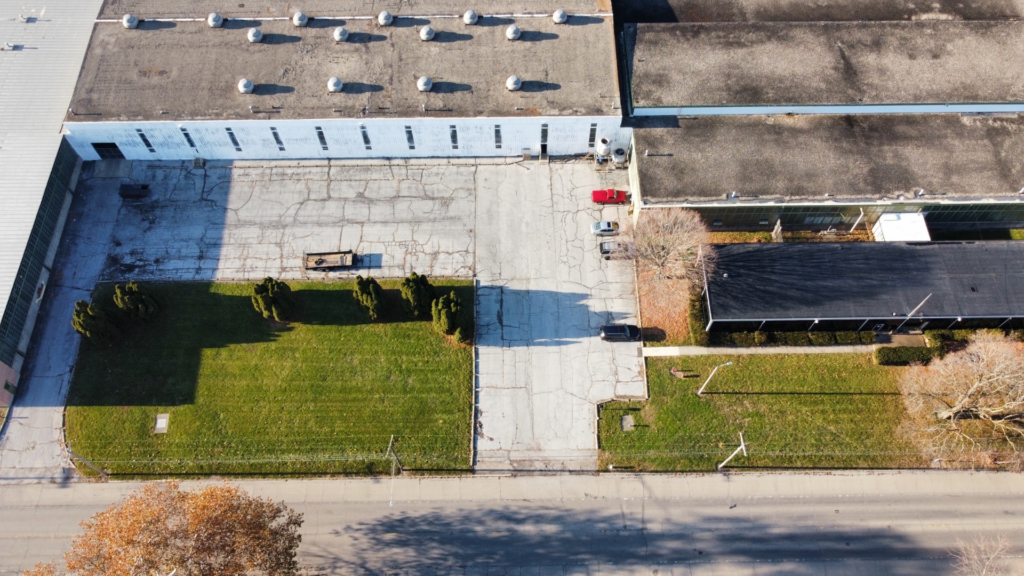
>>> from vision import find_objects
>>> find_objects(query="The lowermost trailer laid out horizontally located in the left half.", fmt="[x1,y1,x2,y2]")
[299,246,364,270]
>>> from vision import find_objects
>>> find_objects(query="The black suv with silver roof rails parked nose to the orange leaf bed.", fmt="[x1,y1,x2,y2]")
[600,321,640,340]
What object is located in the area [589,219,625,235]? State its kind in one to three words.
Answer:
car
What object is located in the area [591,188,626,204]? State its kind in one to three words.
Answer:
vehicle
